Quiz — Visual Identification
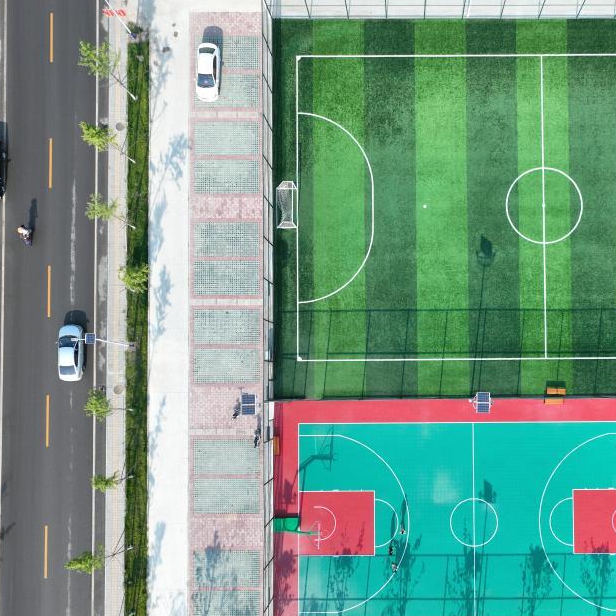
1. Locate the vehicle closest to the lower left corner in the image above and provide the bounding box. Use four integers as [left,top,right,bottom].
[57,324,87,383]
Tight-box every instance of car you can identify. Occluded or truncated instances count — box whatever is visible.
[0,140,9,201]
[195,43,222,104]
[57,324,87,383]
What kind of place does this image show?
sports ground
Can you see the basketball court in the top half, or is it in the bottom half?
bottom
